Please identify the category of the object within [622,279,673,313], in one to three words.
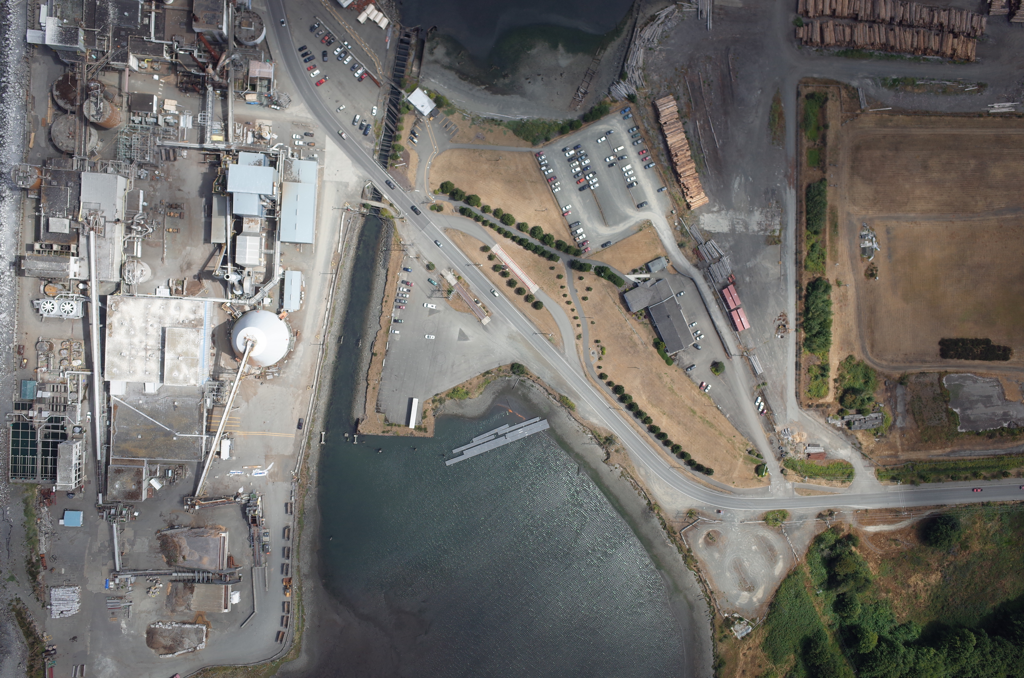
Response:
building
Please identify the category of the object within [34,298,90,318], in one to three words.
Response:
cooling tower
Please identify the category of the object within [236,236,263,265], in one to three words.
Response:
house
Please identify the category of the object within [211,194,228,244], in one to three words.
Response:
shed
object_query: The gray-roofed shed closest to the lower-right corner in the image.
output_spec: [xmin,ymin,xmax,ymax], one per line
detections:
[843,413,884,430]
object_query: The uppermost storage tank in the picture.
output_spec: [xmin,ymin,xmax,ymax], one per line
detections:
[234,10,268,47]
